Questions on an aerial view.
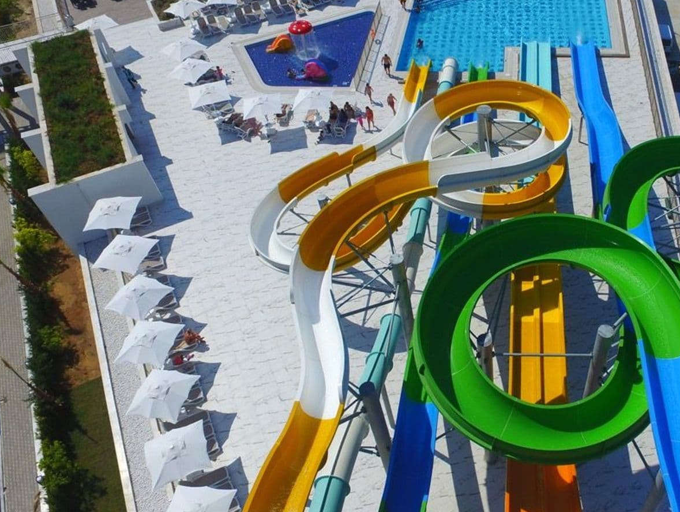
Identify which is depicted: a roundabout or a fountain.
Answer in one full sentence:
Looking from above, you can make out a fountain.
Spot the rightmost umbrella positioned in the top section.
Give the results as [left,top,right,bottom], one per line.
[288,88,335,129]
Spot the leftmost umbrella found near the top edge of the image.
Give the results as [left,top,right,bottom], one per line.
[77,16,119,39]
